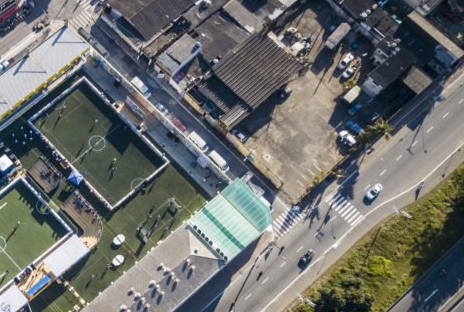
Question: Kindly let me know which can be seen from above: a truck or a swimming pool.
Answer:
truck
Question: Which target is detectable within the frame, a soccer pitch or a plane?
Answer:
soccer pitch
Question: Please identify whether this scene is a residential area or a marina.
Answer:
residential area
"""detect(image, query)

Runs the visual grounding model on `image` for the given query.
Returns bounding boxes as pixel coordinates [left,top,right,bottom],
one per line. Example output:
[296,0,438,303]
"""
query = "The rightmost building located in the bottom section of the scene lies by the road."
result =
[188,178,272,262]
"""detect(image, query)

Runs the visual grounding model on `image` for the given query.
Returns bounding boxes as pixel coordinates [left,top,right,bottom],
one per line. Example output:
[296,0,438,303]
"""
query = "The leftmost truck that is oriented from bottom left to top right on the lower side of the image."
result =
[294,247,317,268]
